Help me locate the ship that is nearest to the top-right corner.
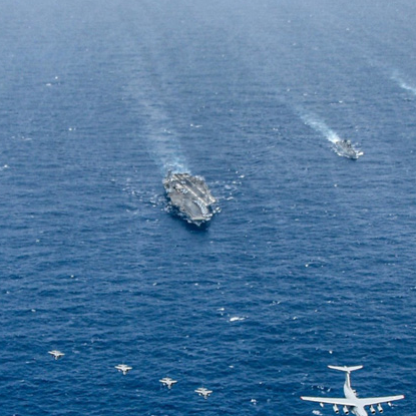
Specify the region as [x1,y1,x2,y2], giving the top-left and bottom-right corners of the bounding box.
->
[335,140,357,160]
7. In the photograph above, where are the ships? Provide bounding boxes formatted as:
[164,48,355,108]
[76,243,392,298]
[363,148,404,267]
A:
[166,171,216,225]
[335,140,357,160]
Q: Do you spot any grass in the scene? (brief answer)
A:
No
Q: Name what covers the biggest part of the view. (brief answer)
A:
water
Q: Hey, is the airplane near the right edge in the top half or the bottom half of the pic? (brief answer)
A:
bottom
